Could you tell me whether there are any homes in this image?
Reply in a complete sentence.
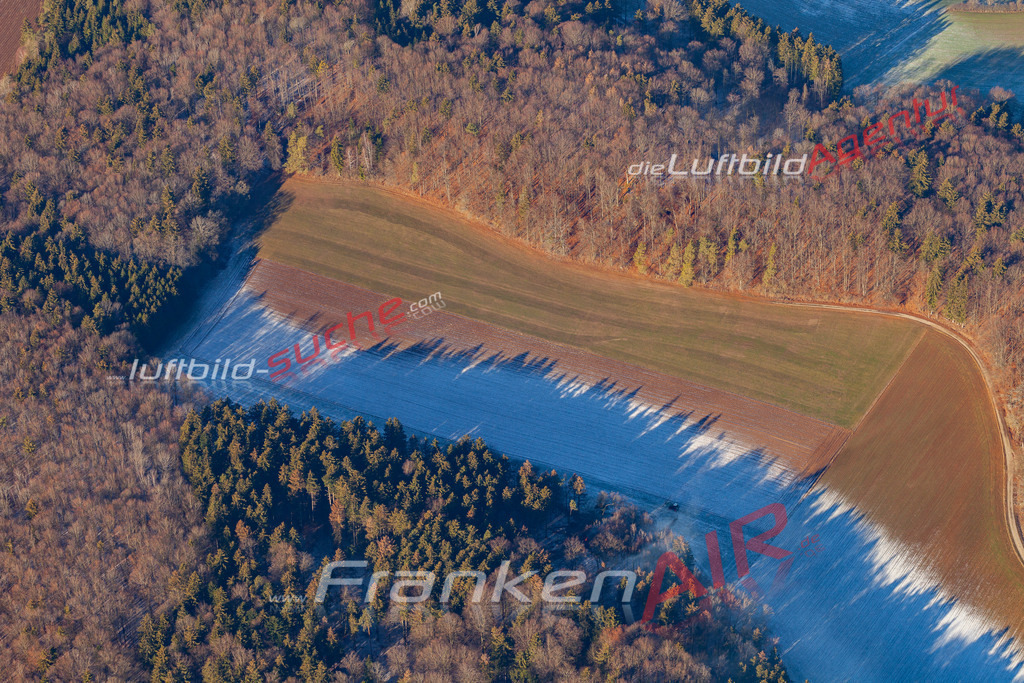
No, I can't see a single home in this photo.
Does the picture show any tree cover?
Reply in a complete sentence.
Yes, tree cover shows up in the scene.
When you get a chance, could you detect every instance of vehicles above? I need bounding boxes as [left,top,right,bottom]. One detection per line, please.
[664,500,679,512]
